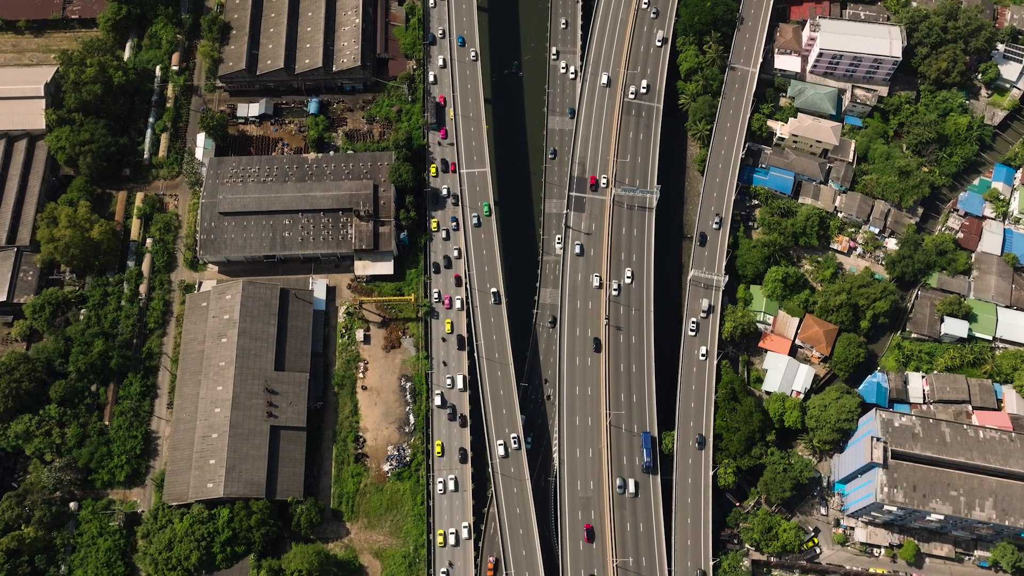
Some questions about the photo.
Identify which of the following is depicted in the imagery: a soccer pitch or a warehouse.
warehouse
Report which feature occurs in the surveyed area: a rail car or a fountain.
rail car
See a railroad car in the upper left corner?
Yes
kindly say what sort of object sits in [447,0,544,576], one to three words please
overpass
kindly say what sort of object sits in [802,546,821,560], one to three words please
vehicle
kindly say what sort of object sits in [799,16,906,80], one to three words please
building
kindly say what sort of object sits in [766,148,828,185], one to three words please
house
